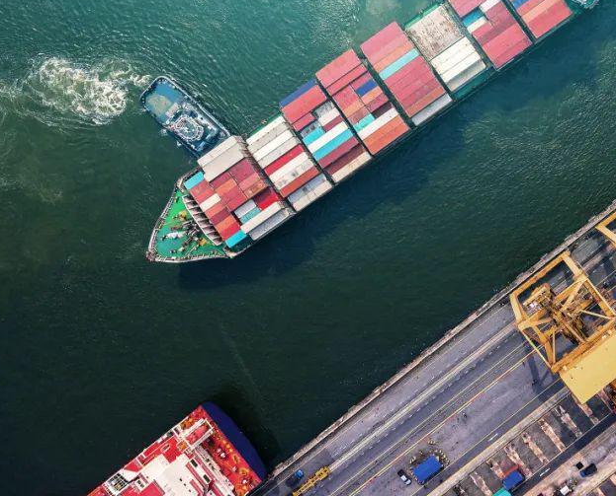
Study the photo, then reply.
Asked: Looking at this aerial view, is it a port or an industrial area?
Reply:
port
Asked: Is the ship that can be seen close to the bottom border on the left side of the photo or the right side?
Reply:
left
